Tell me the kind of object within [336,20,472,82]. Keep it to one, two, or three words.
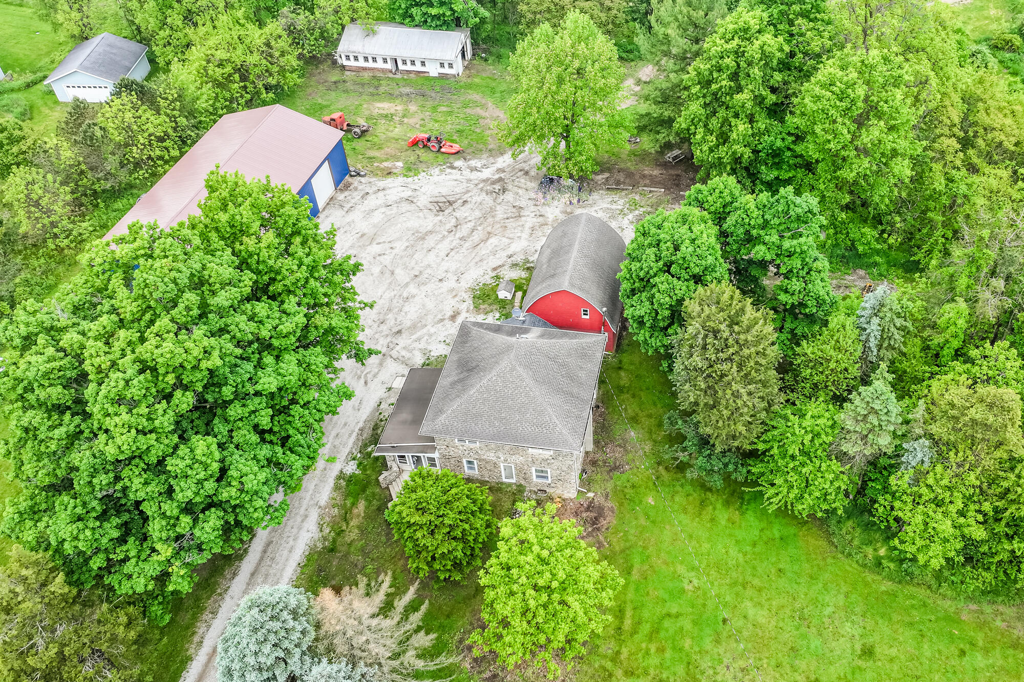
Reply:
shed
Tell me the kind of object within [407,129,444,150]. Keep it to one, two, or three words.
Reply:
work vehicle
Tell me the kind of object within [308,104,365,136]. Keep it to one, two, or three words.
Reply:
truck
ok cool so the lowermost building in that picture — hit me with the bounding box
[373,315,608,504]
